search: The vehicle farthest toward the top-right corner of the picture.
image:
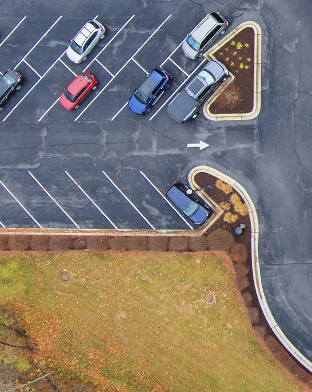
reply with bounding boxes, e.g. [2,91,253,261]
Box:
[182,10,229,60]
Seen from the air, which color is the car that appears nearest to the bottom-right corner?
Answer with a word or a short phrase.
blue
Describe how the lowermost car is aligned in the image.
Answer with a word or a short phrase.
at an angle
